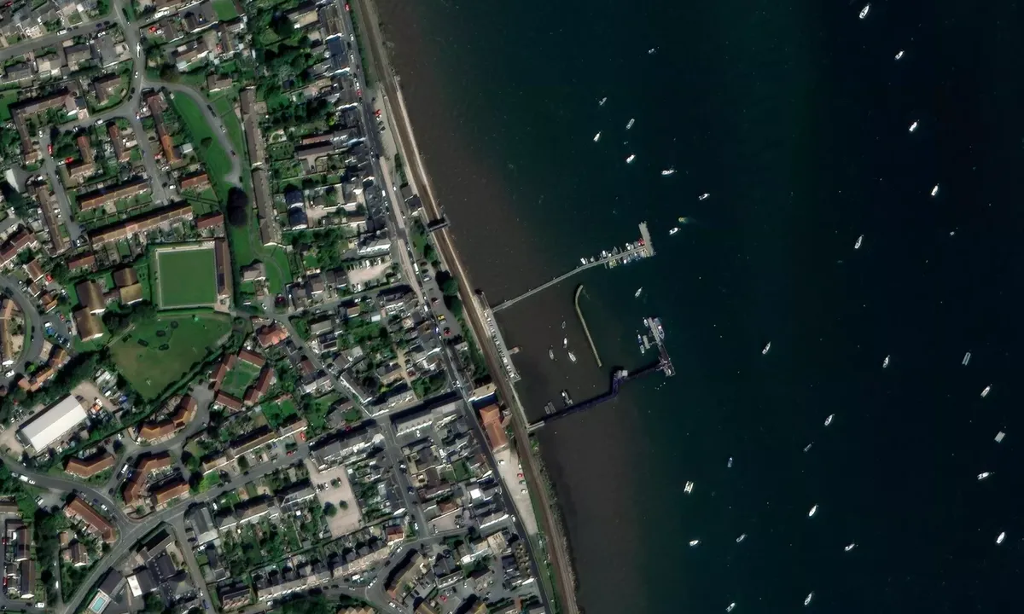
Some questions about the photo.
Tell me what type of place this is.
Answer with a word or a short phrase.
residential area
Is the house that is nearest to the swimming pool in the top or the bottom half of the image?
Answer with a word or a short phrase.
bottom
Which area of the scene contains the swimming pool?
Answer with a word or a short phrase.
bottom left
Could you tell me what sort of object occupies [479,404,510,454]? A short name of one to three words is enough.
building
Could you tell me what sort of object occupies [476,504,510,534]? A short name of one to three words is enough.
house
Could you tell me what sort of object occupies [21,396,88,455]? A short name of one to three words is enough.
building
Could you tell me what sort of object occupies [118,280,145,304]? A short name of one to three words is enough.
house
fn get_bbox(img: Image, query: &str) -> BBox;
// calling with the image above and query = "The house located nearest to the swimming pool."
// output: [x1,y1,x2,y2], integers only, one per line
[98,570,126,603]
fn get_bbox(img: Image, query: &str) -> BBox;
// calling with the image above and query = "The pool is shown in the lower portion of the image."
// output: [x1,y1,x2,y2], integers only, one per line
[88,592,110,614]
